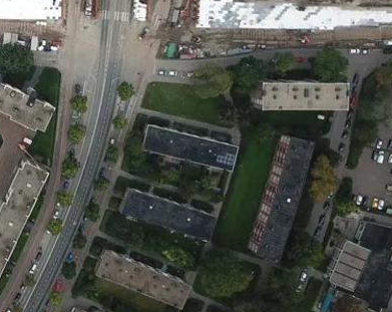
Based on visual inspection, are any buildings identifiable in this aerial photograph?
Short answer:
Yes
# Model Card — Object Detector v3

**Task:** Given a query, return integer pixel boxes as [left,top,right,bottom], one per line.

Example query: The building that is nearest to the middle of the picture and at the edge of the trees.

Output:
[139,120,239,171]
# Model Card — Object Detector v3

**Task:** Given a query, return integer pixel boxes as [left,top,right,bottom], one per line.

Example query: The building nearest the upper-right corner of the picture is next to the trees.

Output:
[250,77,349,111]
